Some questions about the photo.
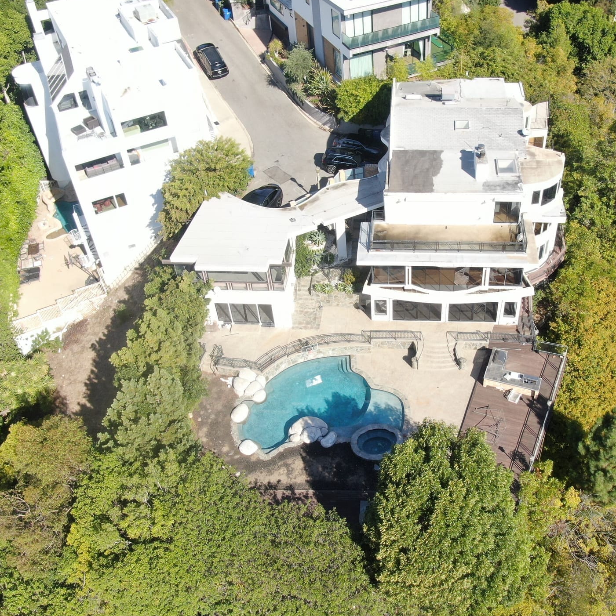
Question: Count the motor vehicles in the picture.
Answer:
4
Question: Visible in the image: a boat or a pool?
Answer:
pool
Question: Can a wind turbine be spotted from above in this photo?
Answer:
No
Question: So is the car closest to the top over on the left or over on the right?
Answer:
left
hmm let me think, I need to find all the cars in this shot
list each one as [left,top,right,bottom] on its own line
[195,46,231,87]
[329,128,384,156]
[319,144,380,175]
[237,184,294,206]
